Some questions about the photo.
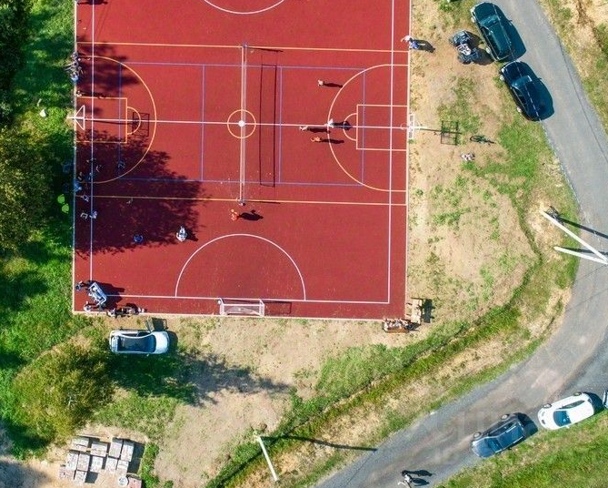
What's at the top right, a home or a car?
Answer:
car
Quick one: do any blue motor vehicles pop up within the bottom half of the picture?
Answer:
Yes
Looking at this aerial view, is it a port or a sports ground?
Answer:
sports ground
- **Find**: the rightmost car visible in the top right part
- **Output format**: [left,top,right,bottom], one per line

[502,60,547,117]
